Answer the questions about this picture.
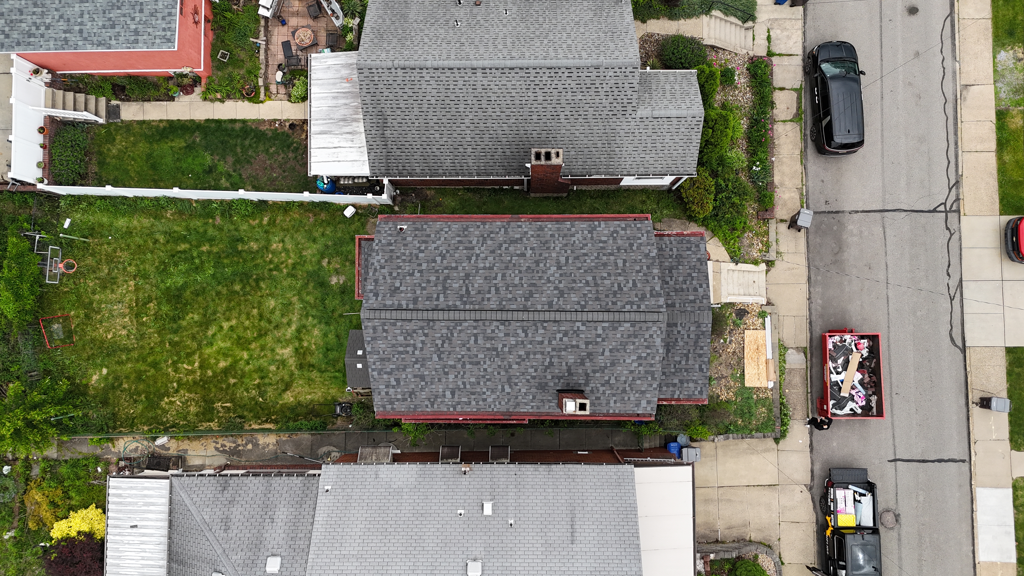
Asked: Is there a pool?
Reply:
No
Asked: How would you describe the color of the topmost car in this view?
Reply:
black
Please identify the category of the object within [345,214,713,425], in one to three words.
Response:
house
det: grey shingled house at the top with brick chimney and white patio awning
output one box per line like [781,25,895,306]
[306,0,704,199]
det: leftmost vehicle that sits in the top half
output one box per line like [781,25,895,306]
[806,41,867,157]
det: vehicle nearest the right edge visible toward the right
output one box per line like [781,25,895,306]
[1003,217,1024,263]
